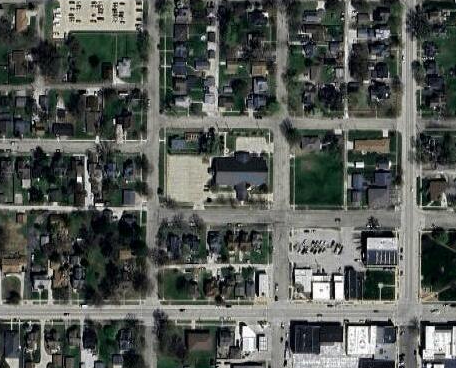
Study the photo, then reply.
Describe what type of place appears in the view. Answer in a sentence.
This looks like a residential area.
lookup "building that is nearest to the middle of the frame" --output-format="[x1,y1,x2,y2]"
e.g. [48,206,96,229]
[209,149,270,201]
